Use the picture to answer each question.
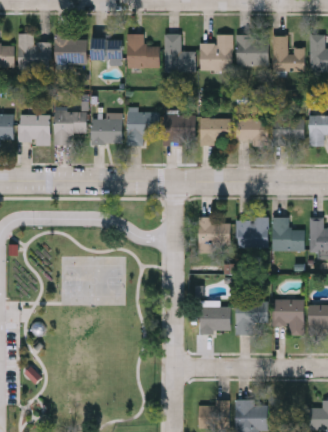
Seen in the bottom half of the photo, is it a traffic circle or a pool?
pool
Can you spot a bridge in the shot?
No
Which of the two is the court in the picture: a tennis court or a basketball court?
basketball court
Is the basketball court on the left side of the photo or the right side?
left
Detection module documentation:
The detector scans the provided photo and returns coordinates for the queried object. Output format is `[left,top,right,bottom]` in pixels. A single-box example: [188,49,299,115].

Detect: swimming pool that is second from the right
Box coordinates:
[277,278,305,296]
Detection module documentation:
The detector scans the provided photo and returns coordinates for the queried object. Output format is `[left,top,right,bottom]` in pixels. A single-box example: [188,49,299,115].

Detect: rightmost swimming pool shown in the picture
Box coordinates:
[309,286,328,301]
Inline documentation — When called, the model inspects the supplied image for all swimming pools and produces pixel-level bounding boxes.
[98,66,123,84]
[204,280,230,300]
[277,278,305,296]
[309,286,328,301]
